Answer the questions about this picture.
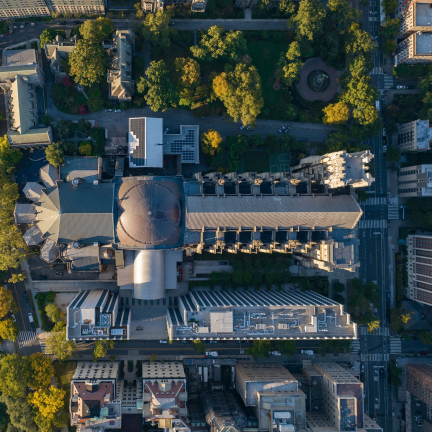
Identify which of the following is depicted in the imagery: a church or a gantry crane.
church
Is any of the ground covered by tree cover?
Yes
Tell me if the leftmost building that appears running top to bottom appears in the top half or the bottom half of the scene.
top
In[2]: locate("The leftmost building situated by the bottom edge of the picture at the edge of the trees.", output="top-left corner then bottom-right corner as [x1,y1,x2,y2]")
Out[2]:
[69,362,126,432]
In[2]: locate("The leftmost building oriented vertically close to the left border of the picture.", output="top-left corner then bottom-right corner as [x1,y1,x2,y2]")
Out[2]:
[0,40,58,150]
